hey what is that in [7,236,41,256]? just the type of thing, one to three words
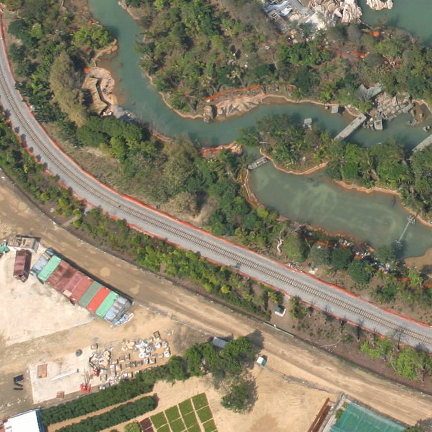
shed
